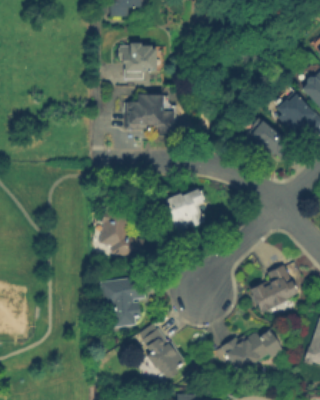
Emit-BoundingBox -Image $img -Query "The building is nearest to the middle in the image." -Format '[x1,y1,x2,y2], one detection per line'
[166,186,206,226]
